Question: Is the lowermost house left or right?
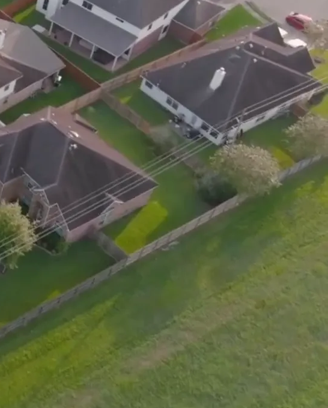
left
